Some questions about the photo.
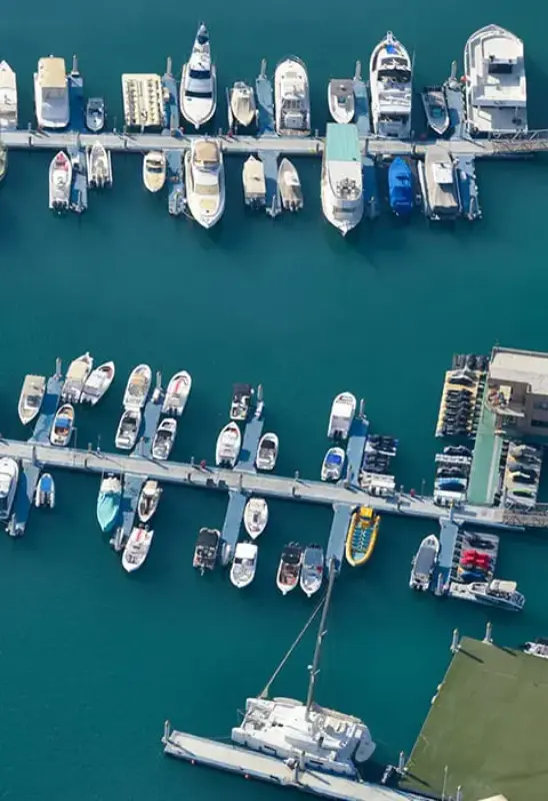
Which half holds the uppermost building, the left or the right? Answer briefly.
right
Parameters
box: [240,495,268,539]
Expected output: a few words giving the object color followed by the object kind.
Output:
white boat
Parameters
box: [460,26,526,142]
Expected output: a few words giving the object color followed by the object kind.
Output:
white boat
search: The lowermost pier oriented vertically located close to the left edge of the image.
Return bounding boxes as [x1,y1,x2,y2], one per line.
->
[5,465,45,535]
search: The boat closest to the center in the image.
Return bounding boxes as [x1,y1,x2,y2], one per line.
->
[230,382,254,423]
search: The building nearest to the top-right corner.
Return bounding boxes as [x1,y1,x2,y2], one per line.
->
[484,343,548,441]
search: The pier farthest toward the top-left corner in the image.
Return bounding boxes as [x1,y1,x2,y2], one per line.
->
[61,74,91,133]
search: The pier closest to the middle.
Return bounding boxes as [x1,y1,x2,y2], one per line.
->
[235,411,265,472]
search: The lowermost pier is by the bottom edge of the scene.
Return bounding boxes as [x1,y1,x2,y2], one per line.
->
[163,733,420,801]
